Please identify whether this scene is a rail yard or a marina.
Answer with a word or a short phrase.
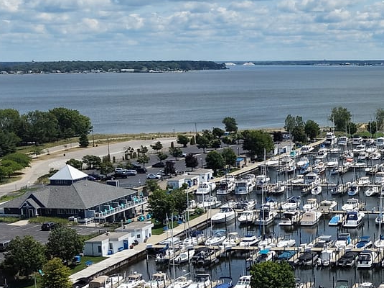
marina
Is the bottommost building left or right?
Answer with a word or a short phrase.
left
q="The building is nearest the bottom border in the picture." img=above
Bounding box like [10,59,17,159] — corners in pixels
[82,220,158,256]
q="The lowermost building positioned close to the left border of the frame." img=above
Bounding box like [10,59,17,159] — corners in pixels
[0,165,145,220]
